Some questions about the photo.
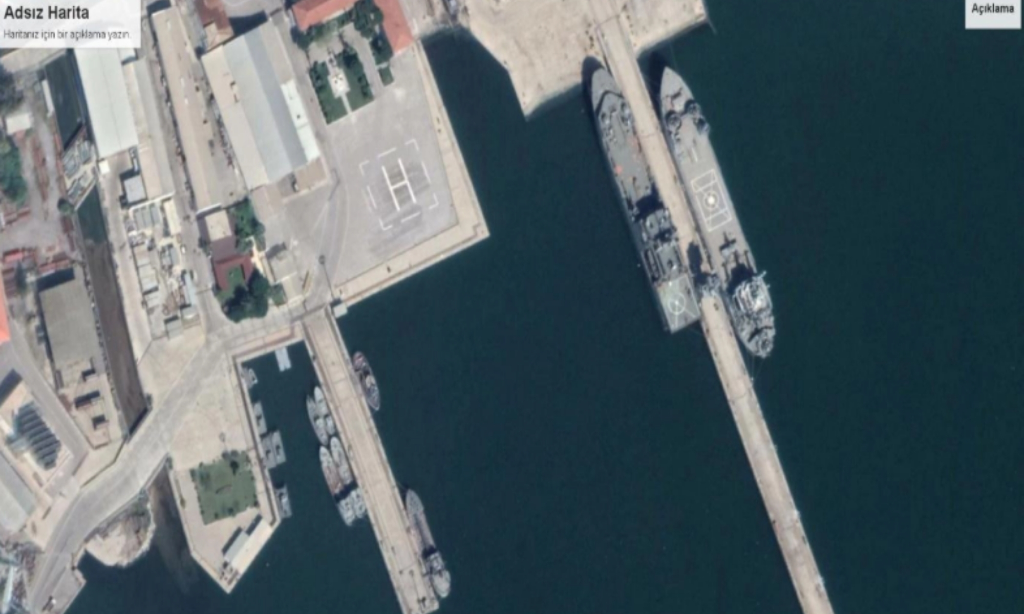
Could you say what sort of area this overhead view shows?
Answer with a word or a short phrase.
port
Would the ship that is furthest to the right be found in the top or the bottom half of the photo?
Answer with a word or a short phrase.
top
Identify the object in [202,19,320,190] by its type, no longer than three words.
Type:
shed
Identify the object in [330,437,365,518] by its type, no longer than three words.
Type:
vessel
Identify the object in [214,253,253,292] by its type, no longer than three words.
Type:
building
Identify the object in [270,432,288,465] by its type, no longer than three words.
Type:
boat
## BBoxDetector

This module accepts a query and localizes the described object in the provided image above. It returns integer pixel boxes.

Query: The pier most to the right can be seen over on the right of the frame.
[595,18,834,614]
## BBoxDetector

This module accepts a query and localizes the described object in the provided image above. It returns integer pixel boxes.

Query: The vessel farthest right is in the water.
[659,66,774,359]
